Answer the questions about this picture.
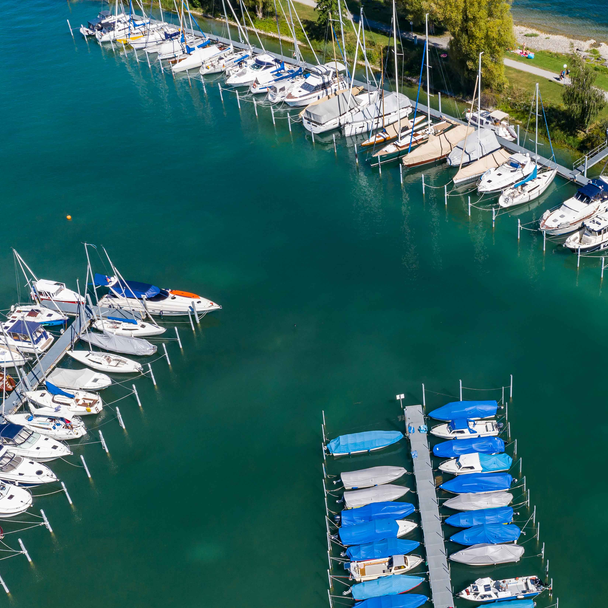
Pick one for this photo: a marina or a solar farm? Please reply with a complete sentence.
What you see here is a marina.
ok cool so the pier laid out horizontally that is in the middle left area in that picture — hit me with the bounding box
[36,303,97,319]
